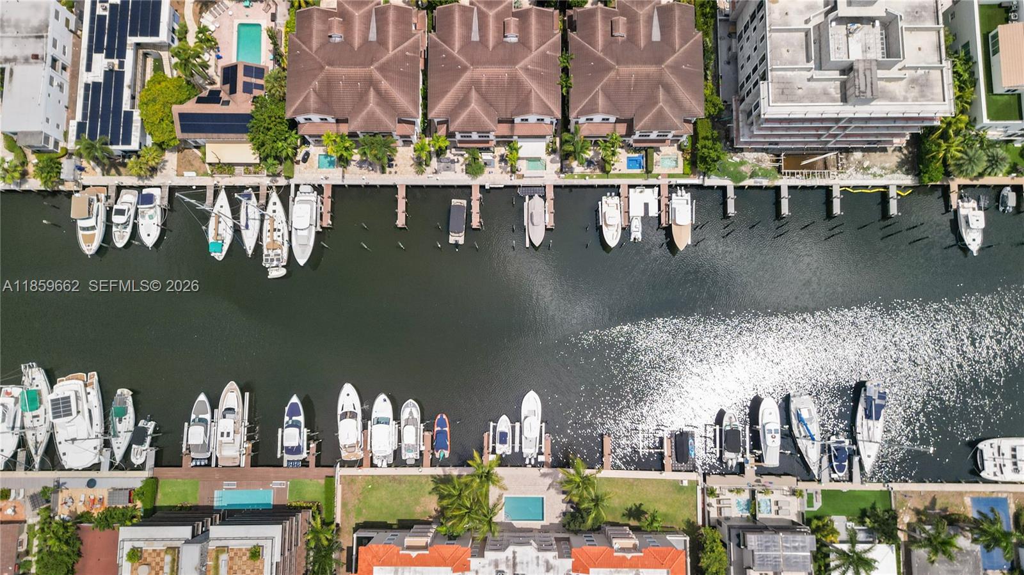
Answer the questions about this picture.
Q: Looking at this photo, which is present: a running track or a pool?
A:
pool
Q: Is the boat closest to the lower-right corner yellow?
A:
No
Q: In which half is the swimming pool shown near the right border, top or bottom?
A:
bottom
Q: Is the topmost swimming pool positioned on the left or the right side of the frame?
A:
left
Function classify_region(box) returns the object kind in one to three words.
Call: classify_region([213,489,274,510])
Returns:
swimming pool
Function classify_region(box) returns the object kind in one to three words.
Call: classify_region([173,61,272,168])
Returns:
house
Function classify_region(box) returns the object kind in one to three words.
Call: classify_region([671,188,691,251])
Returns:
boat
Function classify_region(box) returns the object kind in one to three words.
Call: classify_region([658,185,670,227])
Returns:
pier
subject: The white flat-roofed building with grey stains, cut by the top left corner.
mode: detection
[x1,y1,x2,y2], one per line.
[0,0,79,157]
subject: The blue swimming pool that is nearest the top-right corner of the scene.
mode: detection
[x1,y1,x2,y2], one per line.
[625,153,645,170]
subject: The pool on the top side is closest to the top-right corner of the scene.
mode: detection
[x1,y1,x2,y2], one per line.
[659,153,679,169]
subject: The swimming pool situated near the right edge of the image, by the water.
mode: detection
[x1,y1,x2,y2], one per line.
[966,492,1015,575]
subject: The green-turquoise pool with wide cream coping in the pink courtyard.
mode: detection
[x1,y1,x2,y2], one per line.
[233,19,265,65]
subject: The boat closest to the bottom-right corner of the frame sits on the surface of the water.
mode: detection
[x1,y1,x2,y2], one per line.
[968,437,1024,482]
